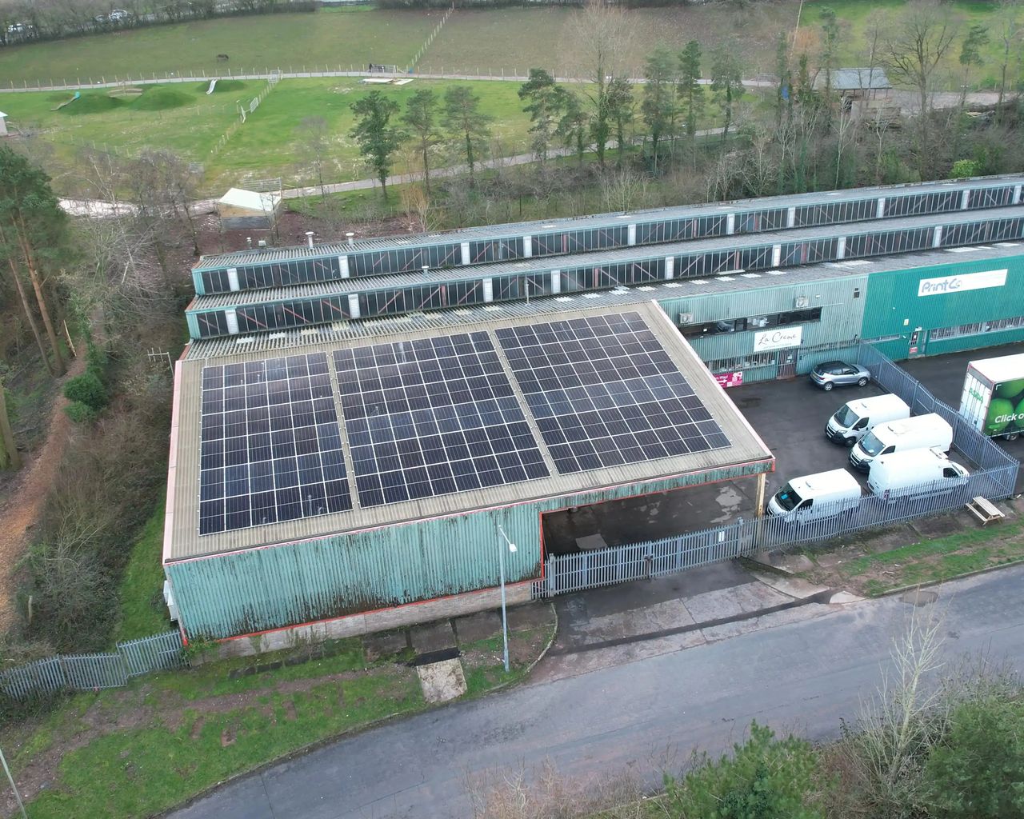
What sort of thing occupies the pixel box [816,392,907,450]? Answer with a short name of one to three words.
van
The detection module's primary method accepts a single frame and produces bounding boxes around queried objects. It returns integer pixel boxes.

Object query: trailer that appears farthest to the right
[953,350,1024,431]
